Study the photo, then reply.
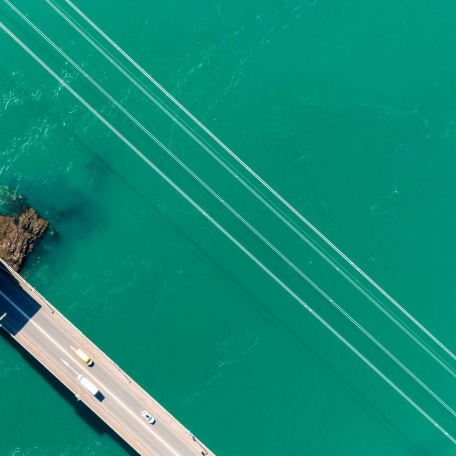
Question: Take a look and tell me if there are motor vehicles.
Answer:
Yes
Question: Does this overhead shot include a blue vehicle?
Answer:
No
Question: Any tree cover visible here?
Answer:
No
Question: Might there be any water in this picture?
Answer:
Yes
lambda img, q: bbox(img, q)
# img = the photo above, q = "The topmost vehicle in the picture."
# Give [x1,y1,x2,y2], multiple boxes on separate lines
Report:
[75,348,92,365]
